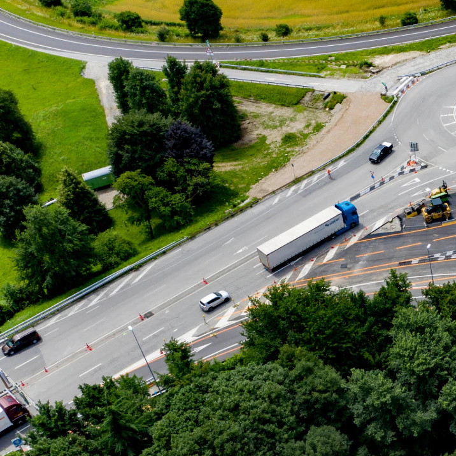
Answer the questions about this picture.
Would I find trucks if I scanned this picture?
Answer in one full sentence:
Yes, there's a truck down there.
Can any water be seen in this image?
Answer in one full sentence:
No, water can't be seen anywhere here.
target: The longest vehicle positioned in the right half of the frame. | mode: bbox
[258,208,357,269]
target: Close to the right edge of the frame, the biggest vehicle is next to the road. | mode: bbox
[420,202,454,226]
